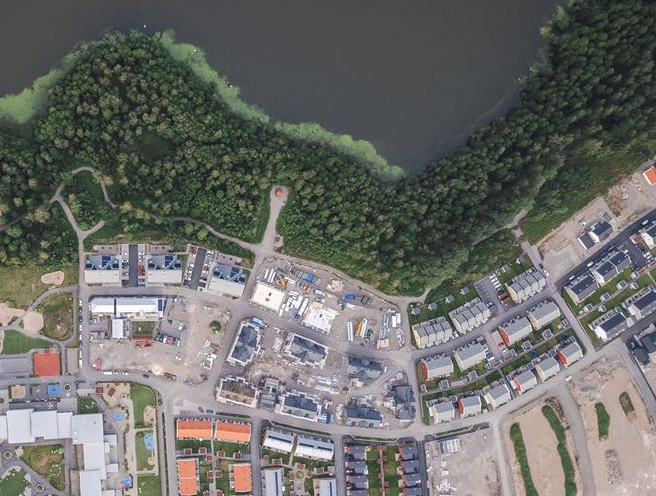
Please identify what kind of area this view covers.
residential area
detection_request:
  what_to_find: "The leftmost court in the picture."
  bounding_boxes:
[0,355,31,377]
